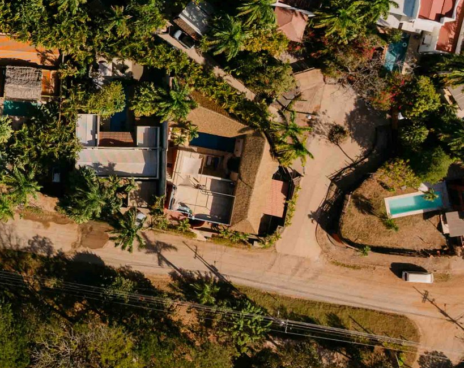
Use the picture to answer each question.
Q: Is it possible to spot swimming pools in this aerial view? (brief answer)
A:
Yes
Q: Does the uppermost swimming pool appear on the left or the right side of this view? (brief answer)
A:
right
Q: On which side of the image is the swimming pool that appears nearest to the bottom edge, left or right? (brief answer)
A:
right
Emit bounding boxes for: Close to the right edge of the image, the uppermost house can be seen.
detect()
[366,0,464,56]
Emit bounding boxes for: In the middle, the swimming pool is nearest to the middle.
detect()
[186,134,237,156]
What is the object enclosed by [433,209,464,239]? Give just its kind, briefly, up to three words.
shed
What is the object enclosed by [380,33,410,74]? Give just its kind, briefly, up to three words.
swimming pool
